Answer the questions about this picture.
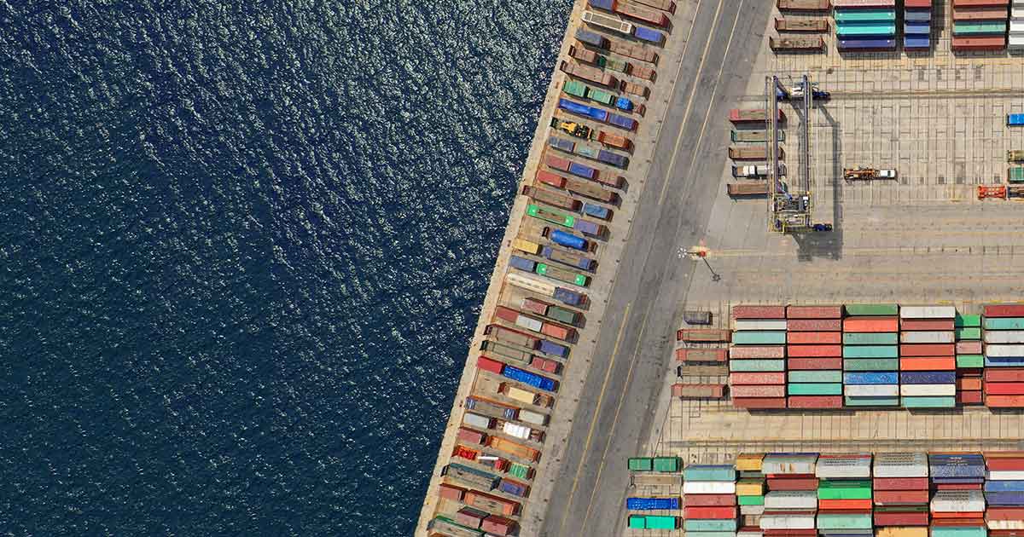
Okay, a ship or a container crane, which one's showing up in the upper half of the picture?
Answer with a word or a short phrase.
container crane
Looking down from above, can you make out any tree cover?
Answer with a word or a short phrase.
No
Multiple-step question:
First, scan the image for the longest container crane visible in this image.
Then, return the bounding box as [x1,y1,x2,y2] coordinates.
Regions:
[767,73,831,233]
